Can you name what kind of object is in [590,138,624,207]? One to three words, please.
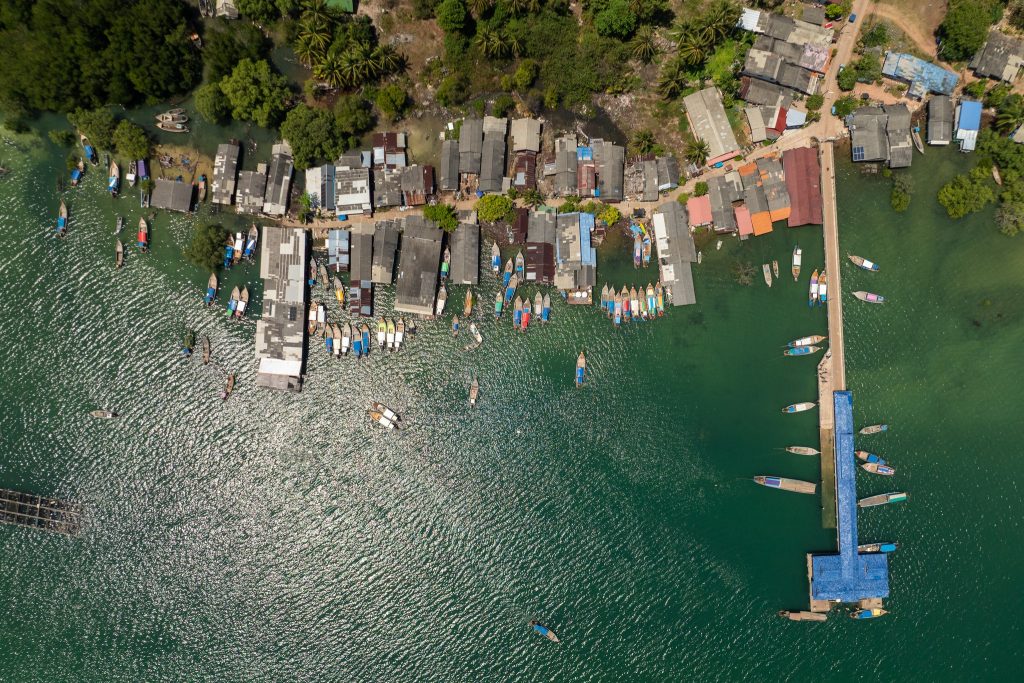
house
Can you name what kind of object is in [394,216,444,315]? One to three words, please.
building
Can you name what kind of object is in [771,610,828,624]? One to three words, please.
boat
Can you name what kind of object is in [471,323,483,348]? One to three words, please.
boat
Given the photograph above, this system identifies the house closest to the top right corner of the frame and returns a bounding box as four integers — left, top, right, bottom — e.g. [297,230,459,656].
[964,30,1024,85]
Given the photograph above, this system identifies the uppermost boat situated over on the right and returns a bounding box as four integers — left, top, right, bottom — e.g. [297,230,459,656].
[910,122,926,153]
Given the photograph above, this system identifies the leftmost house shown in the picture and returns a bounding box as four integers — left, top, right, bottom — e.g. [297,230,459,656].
[151,179,197,214]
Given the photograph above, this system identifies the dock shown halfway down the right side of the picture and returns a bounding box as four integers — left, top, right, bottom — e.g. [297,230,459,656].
[805,137,887,611]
